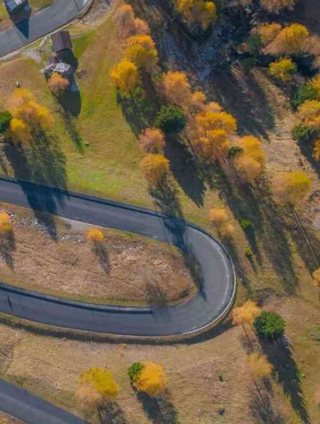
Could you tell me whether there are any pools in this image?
No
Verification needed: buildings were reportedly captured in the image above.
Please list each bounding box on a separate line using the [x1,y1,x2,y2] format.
[52,32,73,59]
[1,0,29,19]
